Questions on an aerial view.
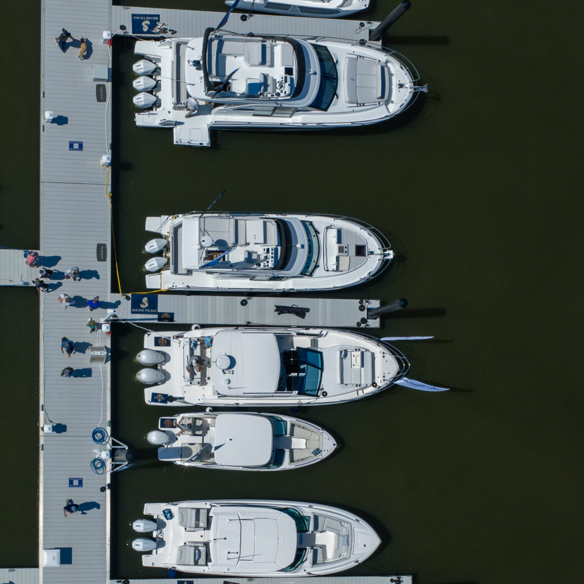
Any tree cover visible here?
No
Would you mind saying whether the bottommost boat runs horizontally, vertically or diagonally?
horizontally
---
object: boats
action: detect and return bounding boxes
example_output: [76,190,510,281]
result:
[146,411,340,472]
[143,211,393,293]
[131,26,428,147]
[134,327,410,407]
[225,0,370,18]
[130,499,381,578]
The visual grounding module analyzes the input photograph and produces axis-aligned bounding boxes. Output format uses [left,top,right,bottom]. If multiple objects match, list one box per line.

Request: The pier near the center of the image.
[111,294,380,328]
